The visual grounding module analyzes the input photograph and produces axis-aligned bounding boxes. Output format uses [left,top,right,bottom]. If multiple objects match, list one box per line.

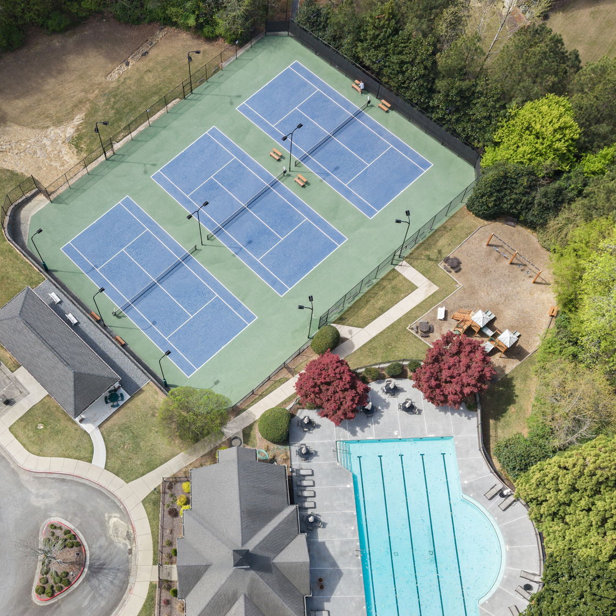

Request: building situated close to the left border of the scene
[0,288,123,425]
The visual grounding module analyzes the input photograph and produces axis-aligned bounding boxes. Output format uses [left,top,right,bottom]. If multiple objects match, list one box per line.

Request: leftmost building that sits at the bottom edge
[175,445,312,616]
